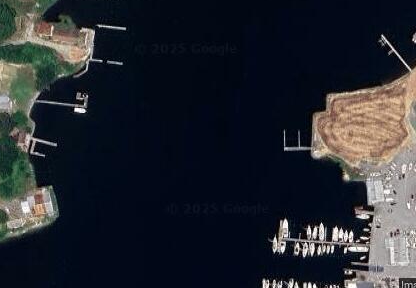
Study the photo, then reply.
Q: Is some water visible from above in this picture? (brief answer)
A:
Yes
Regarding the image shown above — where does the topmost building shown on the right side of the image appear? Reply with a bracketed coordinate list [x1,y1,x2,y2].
[368,180,386,202]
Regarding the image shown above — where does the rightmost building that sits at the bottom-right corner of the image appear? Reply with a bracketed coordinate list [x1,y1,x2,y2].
[386,237,410,265]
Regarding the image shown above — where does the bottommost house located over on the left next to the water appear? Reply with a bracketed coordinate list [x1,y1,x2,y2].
[21,189,54,215]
